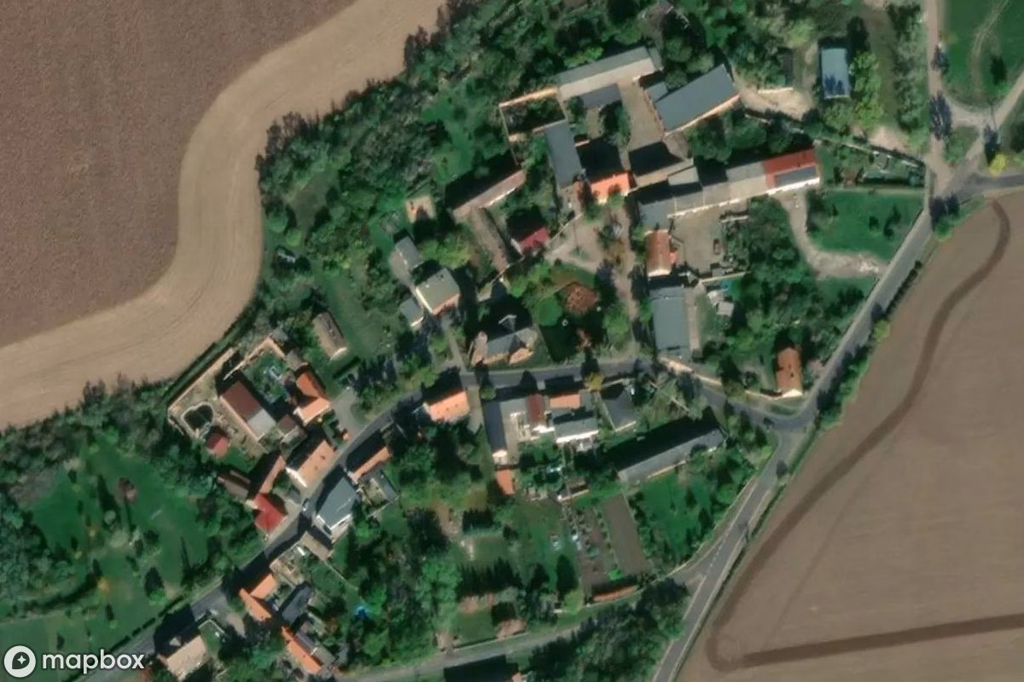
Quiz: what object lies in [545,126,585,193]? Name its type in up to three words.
barn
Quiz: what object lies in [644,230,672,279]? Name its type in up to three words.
house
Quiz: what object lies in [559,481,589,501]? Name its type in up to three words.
shed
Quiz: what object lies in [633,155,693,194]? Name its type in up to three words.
building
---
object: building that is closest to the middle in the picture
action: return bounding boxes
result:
[467,318,535,369]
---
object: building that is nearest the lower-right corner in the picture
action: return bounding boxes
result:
[772,350,803,398]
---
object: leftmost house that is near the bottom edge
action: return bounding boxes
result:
[154,631,207,682]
